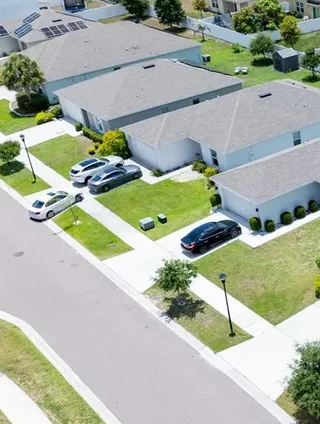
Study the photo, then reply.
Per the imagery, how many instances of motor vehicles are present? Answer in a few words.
4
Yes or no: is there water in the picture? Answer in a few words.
No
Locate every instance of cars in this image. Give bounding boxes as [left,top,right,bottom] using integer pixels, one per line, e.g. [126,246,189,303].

[64,156,122,182]
[21,188,84,218]
[176,220,243,251]
[83,163,142,189]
